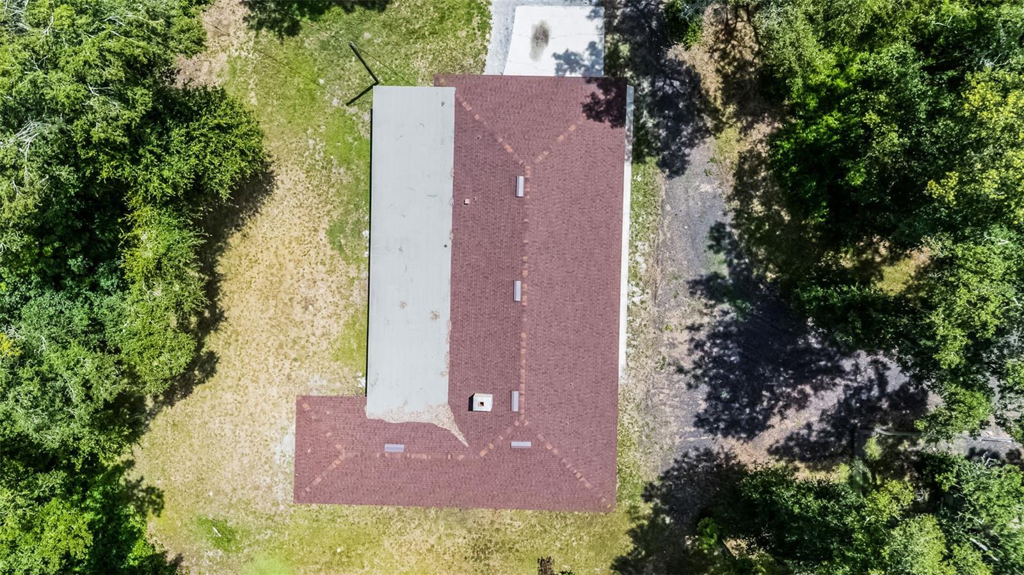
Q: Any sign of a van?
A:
No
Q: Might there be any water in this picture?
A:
No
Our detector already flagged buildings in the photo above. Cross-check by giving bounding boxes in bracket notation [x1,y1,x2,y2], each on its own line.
[292,72,627,513]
